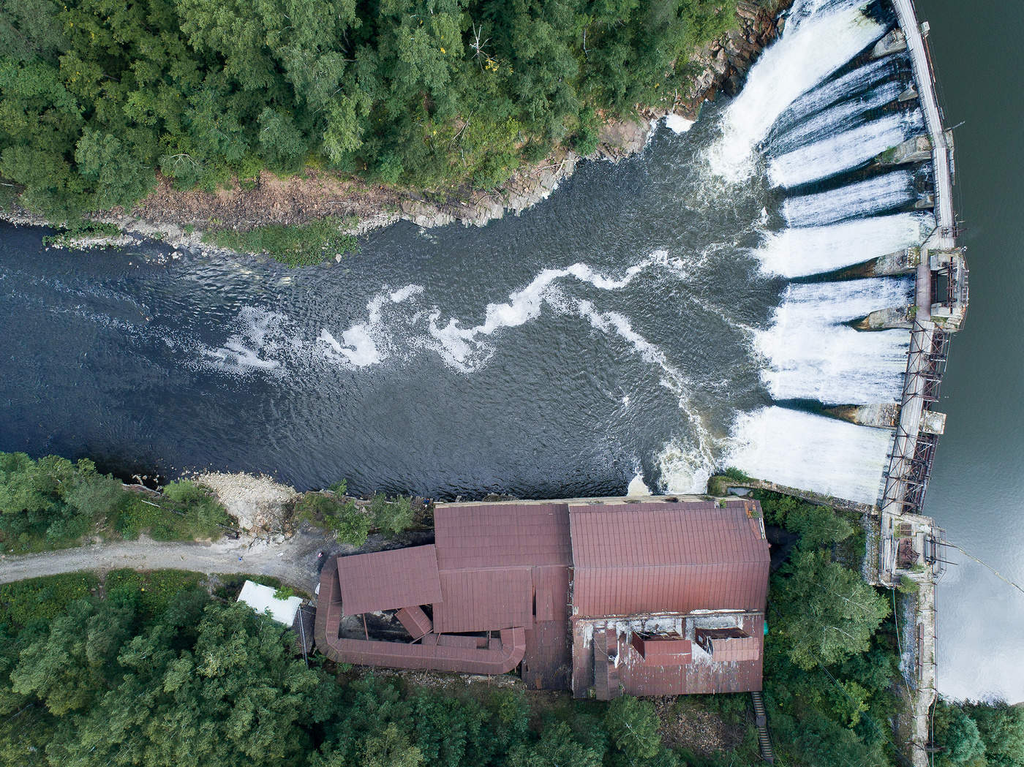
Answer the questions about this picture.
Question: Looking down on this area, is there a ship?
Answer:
No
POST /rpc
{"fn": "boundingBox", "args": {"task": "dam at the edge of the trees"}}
[697,0,945,767]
